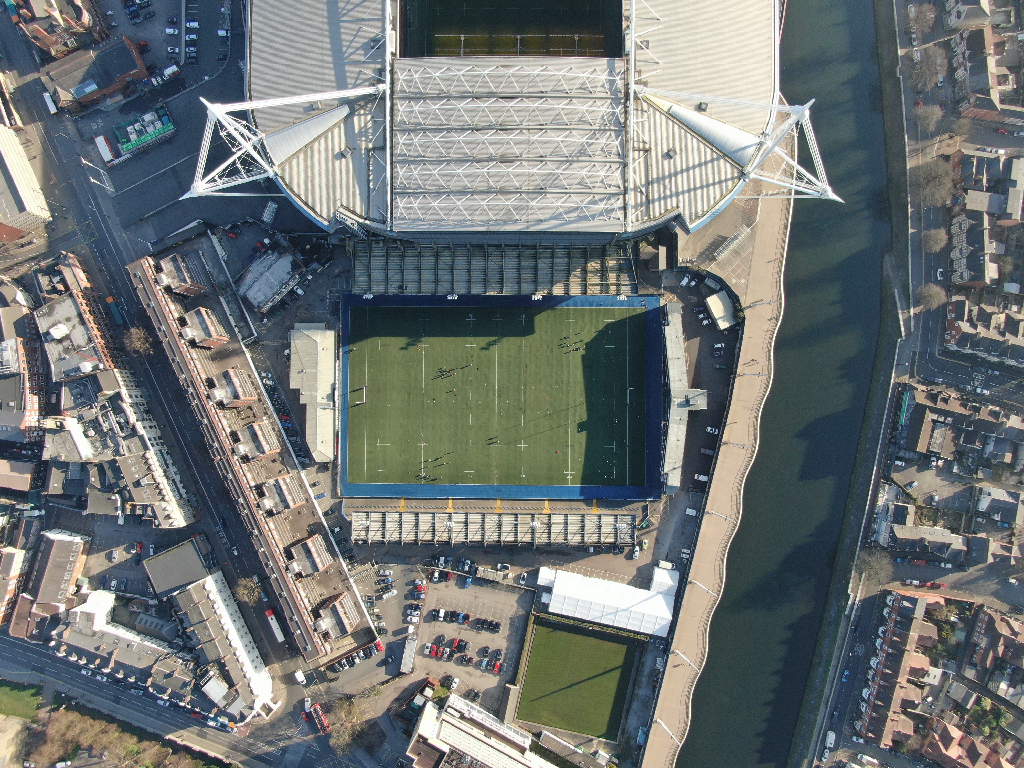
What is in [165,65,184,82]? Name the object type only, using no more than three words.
vehicle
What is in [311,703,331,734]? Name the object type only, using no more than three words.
bus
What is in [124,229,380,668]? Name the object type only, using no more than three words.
building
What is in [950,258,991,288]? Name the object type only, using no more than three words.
house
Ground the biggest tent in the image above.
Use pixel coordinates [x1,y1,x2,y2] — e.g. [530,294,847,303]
[549,567,675,637]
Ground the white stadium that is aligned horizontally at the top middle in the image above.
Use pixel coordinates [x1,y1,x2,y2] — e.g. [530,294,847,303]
[179,0,844,250]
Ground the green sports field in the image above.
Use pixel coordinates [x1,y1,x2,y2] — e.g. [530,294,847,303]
[340,273,662,500]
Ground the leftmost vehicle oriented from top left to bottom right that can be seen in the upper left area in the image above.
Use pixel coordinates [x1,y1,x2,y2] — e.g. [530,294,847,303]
[43,92,62,118]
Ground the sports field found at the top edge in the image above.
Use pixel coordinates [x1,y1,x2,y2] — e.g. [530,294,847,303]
[407,0,611,57]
